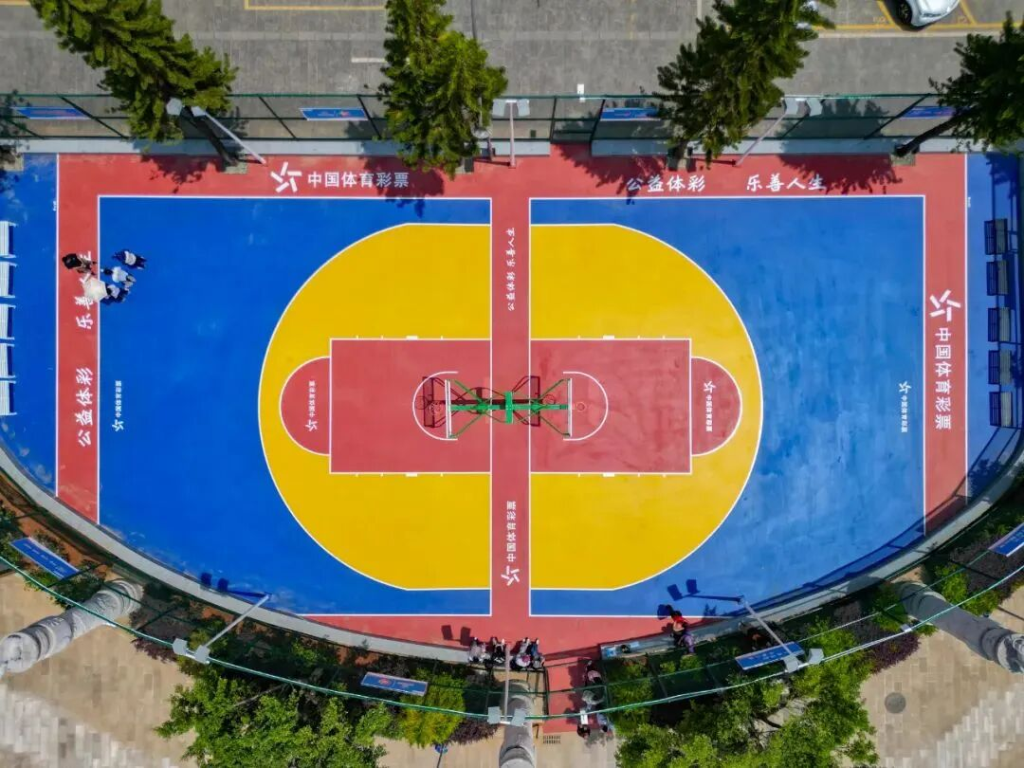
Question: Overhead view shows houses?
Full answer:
No, no house is visible in the scene.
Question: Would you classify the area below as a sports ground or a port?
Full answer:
This image shows a sports ground.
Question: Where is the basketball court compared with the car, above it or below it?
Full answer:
The basketball court appears below the car in the picture.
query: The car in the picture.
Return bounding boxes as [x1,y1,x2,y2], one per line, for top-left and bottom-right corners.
[897,0,961,27]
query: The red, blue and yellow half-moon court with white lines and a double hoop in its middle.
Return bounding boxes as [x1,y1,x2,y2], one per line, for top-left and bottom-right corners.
[0,142,1023,650]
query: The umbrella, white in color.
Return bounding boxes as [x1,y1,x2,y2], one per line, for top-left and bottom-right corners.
[85,277,113,305]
